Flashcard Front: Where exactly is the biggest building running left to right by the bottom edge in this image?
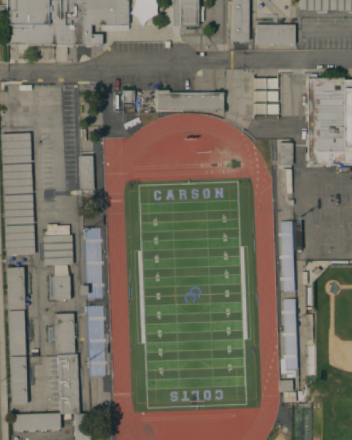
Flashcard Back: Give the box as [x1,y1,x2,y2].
[14,414,62,431]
